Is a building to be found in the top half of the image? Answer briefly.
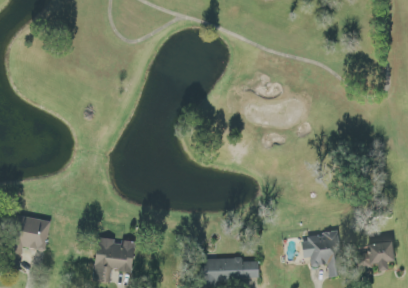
No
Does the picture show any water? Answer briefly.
Yes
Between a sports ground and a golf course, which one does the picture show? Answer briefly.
golf course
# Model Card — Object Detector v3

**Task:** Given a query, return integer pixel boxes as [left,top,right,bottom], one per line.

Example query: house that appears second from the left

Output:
[95,237,135,283]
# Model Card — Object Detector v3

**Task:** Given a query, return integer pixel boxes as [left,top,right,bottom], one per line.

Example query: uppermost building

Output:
[14,216,50,254]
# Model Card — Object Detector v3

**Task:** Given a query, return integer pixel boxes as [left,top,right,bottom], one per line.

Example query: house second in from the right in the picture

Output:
[302,232,338,278]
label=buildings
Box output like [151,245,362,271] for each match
[302,232,338,278]
[205,258,258,282]
[95,237,135,283]
[14,216,50,254]
[358,240,396,272]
